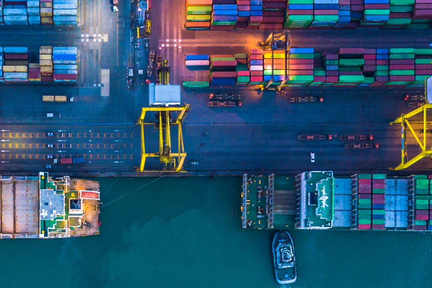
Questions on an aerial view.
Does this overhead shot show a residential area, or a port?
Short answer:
port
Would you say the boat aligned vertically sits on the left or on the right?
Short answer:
right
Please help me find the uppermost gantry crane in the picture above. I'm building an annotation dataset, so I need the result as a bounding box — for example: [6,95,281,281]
[263,32,290,92]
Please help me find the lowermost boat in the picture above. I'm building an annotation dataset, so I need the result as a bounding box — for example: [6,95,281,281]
[272,230,296,285]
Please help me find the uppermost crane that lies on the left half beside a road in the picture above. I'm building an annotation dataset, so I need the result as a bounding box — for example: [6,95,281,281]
[135,56,191,172]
